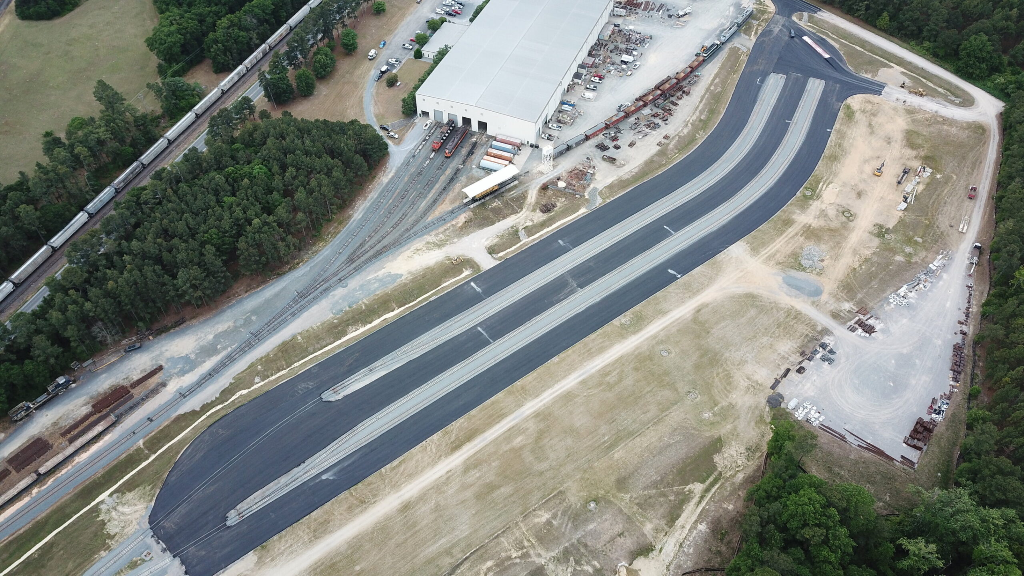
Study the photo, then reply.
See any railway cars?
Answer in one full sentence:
Yes, there's a railway car here.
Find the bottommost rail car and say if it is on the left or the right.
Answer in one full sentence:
The bottommost rail car is on the left side of the image.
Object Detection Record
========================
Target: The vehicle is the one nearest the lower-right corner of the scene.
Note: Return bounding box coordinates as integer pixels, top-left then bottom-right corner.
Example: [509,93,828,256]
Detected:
[787,394,800,410]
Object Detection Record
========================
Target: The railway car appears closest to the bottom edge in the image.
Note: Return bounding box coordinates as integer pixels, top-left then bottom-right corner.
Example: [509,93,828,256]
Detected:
[0,469,37,499]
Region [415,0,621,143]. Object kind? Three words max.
warehouse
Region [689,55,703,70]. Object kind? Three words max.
rail car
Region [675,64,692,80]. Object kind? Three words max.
rail car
